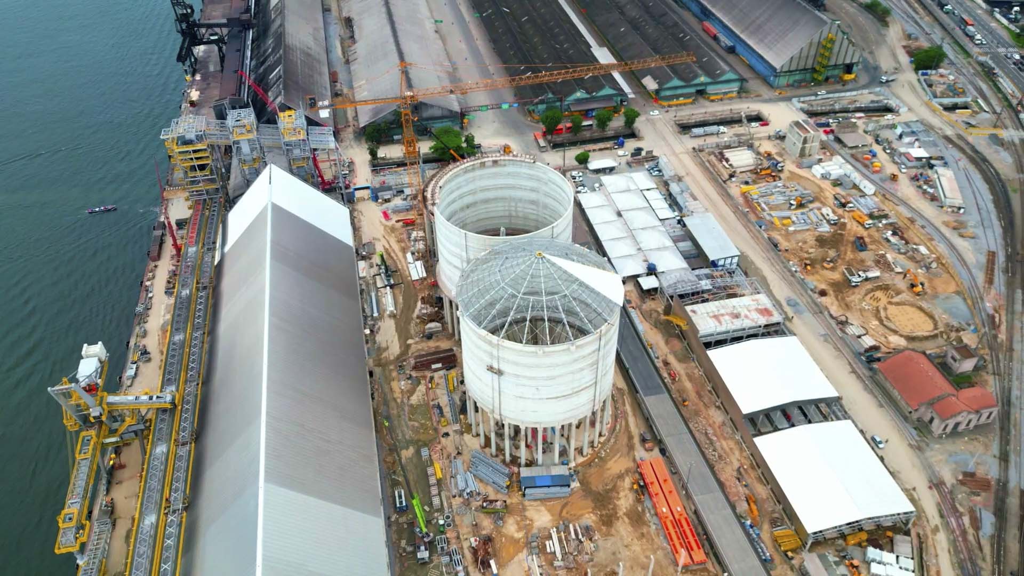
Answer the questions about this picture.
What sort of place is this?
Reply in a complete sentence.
This looks like an industrial area.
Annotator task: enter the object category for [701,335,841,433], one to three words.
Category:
shed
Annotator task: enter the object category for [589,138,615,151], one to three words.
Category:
vehicle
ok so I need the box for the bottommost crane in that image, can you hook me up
[399,455,449,572]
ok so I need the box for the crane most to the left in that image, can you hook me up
[153,158,180,263]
